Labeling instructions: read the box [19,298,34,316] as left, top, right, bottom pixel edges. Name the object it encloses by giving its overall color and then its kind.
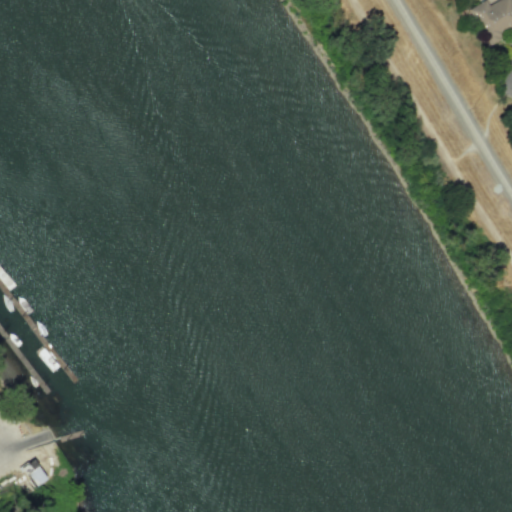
white boat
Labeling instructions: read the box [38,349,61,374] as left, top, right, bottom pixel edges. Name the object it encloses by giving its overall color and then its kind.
white boat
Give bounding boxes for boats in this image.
[10,332,24,349]
[38,321,49,339]
[4,295,15,314]
[0,264,16,290]
[19,298,34,316]
[38,349,61,374]
[30,376,40,389]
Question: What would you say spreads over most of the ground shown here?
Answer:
water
